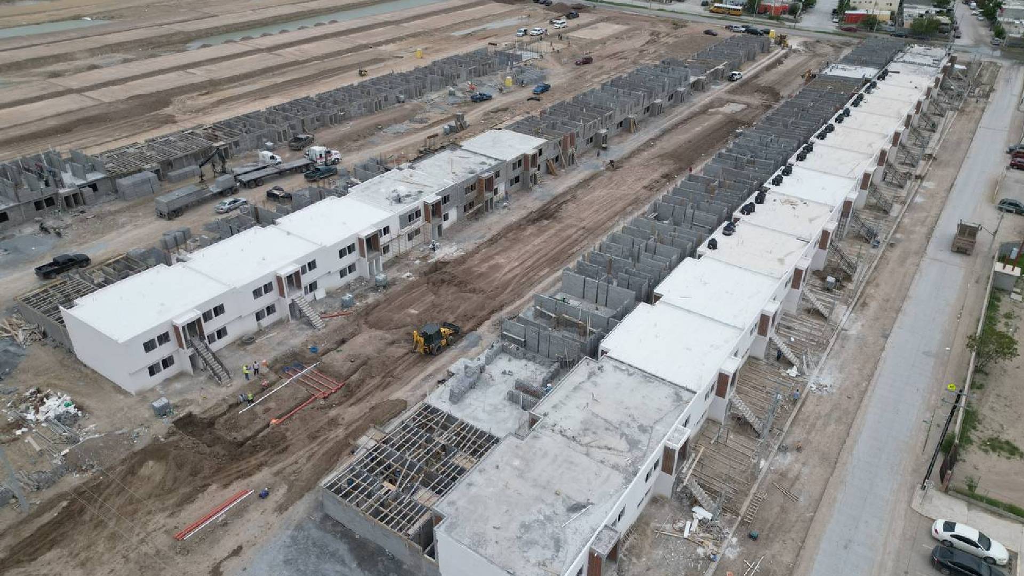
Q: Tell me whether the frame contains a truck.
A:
Yes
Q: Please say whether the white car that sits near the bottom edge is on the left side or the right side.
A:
right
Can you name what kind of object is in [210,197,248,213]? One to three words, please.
car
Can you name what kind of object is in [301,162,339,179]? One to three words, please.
vehicle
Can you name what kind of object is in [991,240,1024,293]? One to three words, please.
shed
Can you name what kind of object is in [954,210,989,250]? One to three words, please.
truck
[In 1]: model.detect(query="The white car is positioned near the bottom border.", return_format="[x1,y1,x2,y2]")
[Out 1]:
[935,517,1015,567]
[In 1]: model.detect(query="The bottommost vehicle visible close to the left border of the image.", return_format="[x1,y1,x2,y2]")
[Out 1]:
[32,254,89,278]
